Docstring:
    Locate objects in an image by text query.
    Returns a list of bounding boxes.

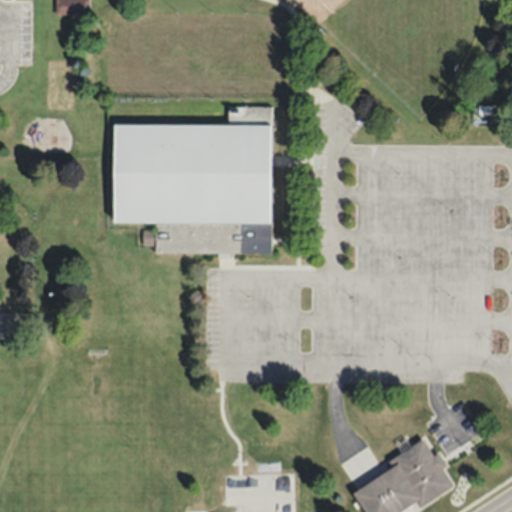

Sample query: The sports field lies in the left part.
[106,11,288,98]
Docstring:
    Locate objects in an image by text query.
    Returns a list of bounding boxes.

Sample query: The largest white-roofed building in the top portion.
[113,108,273,254]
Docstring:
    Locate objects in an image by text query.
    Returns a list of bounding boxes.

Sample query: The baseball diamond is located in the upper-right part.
[300,0,478,119]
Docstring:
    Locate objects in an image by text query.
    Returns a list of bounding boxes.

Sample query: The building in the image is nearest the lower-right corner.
[355,439,458,512]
